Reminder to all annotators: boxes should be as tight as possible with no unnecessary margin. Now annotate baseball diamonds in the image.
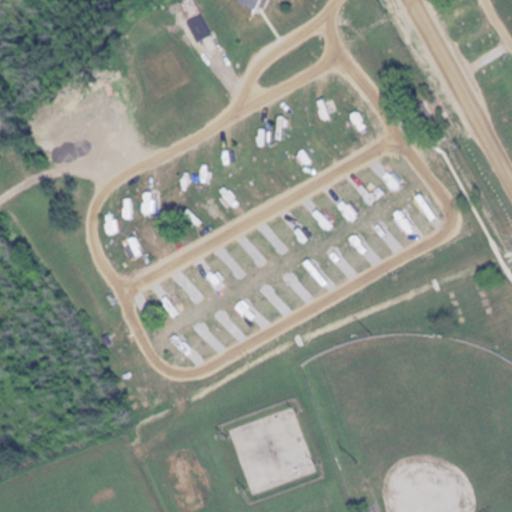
[301,334,512,512]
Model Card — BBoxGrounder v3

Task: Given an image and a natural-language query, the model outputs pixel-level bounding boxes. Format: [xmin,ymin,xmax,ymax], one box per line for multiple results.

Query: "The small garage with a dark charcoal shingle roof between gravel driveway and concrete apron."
[186,14,212,41]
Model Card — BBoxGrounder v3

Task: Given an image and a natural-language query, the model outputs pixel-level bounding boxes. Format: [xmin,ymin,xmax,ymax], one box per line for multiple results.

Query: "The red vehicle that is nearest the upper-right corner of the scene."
[350,172,365,188]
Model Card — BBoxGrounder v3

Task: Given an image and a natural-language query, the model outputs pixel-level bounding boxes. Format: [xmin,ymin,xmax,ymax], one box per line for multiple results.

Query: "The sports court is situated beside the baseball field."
[218,399,324,505]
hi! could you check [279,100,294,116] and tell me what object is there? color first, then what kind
white vehicle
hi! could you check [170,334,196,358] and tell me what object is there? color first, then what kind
white camper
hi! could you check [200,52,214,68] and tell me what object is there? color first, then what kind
white vehicle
